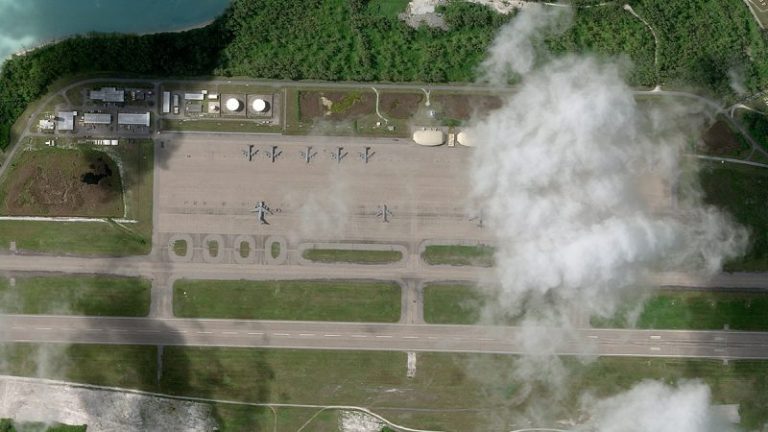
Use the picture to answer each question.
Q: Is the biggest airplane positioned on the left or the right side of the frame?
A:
left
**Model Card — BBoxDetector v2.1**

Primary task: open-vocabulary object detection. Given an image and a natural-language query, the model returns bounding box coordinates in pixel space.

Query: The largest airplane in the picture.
[249,202,272,224]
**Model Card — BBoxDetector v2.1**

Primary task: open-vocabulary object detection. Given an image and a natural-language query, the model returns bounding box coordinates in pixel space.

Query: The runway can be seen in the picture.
[0,316,768,358]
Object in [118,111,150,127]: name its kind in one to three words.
building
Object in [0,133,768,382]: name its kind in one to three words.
airport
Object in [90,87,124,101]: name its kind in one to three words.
building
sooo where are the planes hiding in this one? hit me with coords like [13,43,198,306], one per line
[331,147,347,164]
[300,146,316,164]
[358,147,375,164]
[376,205,394,222]
[266,146,282,163]
[242,145,258,161]
[249,202,272,224]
